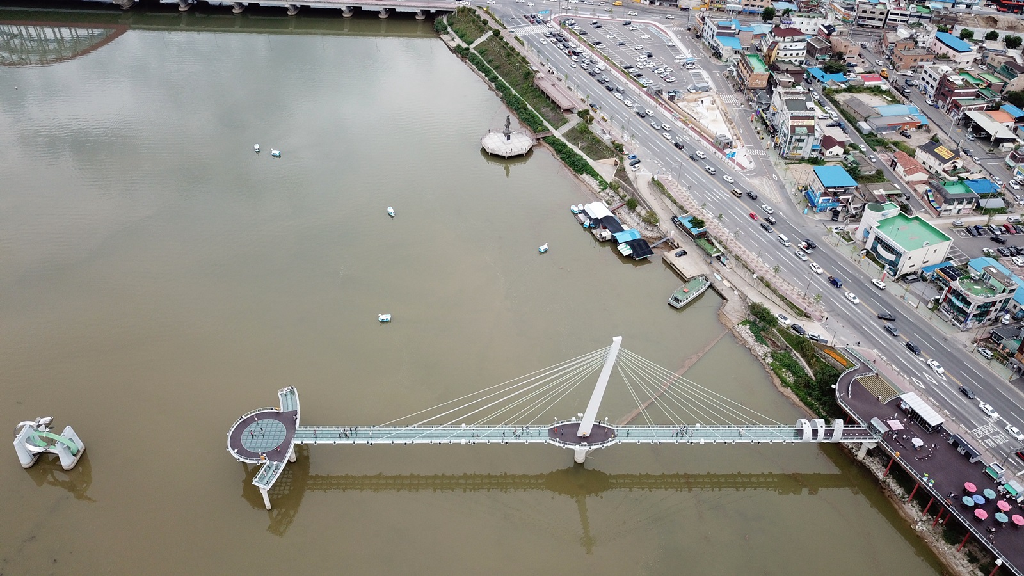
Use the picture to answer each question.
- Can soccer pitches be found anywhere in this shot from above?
No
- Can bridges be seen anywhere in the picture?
Yes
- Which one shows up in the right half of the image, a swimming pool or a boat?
boat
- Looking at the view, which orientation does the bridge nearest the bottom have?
from left to right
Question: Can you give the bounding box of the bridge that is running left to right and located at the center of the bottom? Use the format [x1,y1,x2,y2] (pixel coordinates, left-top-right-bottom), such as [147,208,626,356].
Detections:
[225,334,880,512]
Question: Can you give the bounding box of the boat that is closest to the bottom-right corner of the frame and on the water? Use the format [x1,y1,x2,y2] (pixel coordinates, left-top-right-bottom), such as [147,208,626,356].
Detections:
[663,273,707,305]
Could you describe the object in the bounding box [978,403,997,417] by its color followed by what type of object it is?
white car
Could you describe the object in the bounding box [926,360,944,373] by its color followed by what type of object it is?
white vehicle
